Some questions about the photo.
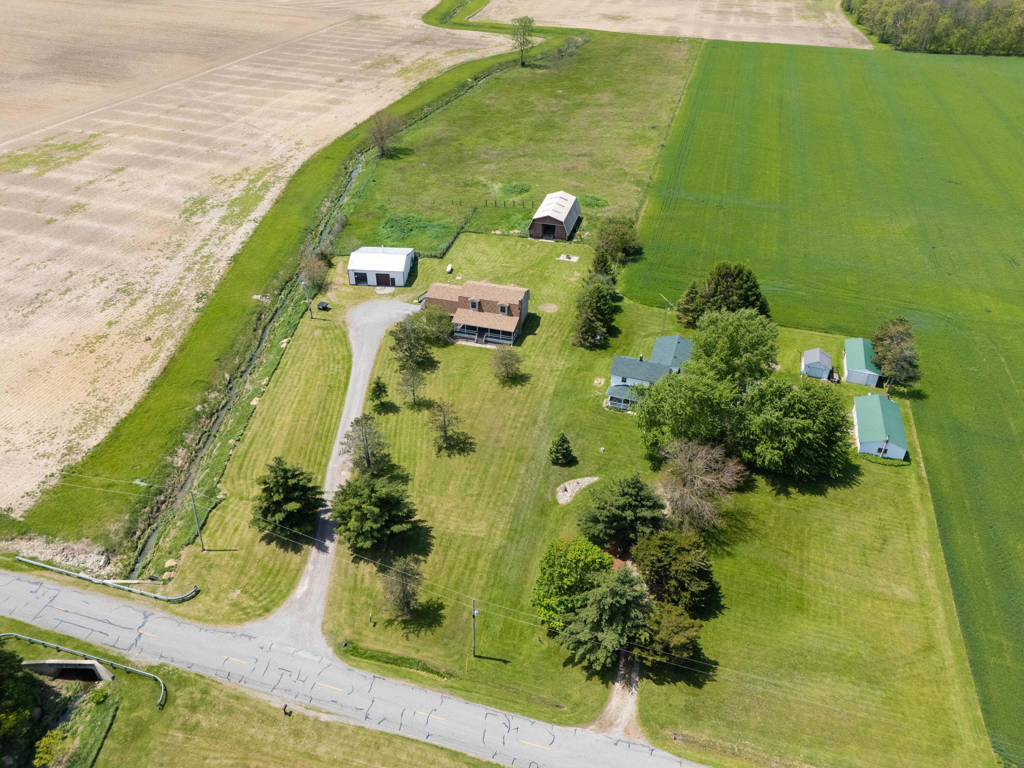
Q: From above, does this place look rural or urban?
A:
rural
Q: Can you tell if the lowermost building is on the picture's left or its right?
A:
right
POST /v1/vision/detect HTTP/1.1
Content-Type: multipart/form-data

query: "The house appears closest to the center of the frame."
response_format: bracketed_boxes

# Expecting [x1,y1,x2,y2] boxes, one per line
[418,276,529,344]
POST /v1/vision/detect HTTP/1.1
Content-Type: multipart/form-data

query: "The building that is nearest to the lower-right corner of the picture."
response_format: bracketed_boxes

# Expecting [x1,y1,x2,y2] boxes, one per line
[854,395,909,459]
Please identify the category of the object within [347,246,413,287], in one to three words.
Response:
barn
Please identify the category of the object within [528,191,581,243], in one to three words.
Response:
barn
